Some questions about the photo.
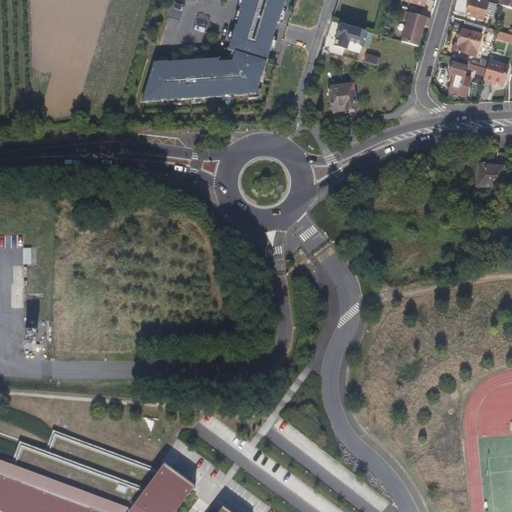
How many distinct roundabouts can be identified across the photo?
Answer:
1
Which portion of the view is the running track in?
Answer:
bottom right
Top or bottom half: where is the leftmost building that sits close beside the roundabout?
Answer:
top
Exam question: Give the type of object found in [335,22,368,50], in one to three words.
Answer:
house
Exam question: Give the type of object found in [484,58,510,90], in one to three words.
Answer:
house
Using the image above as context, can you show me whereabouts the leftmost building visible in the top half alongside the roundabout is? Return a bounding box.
[142,0,284,104]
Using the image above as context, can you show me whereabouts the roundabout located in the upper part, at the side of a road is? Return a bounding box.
[215,132,315,232]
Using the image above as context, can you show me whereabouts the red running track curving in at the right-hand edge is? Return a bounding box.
[462,370,512,512]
